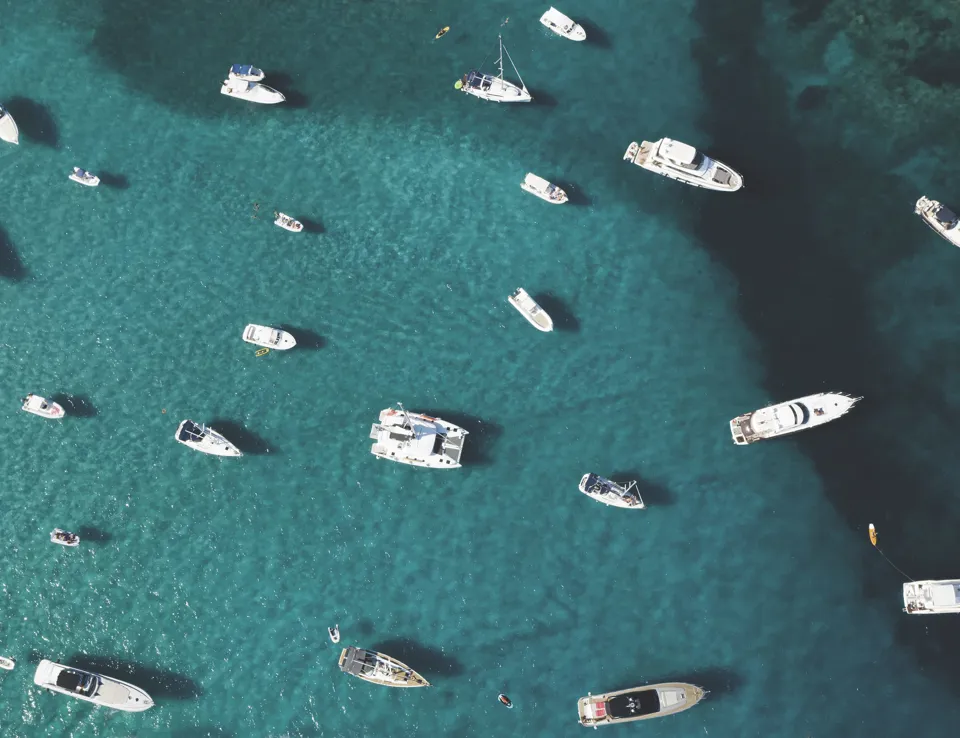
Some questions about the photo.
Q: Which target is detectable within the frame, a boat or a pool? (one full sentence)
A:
The image shows a boat.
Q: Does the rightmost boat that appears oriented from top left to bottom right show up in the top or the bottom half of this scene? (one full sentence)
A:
The rightmost boat that appears oriented from top left to bottom right is in the top half of the image.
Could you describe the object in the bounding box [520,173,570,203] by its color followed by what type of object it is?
white boat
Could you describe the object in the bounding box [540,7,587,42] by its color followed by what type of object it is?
white boat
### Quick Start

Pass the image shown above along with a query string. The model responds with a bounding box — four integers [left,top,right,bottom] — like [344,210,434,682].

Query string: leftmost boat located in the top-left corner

[0,109,21,145]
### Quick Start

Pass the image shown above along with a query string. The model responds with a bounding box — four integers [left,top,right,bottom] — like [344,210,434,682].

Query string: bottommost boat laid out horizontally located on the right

[576,683,710,730]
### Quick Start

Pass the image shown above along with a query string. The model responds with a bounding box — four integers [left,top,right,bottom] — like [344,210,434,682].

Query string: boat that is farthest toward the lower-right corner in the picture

[899,580,960,613]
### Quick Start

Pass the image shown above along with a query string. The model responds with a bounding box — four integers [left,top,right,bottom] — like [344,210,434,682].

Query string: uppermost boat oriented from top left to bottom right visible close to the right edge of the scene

[909,200,960,249]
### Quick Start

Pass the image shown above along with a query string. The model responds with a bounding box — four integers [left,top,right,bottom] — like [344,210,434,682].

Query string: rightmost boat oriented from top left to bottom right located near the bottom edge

[497,693,513,708]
